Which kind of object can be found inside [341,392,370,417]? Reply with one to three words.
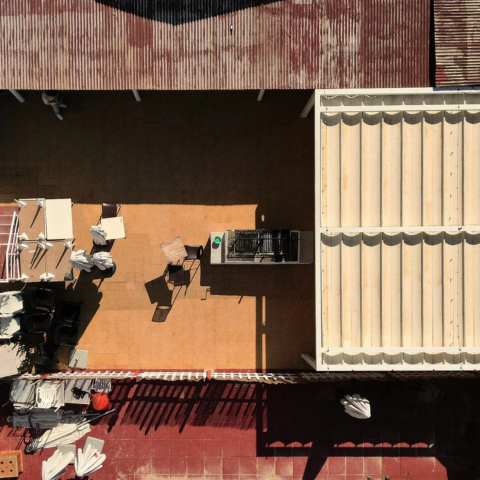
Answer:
umbrella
